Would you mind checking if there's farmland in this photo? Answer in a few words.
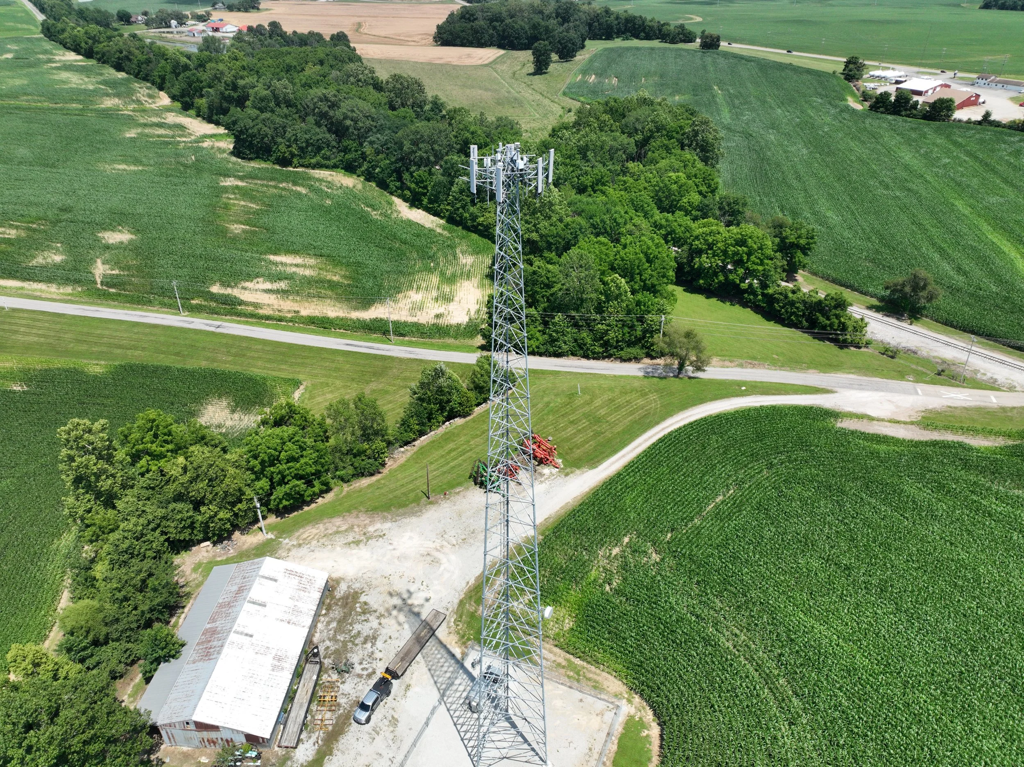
Yes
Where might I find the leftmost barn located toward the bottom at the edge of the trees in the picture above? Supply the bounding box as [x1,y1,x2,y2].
[132,555,330,749]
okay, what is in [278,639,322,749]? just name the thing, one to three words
trailer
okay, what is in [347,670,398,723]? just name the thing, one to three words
truck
